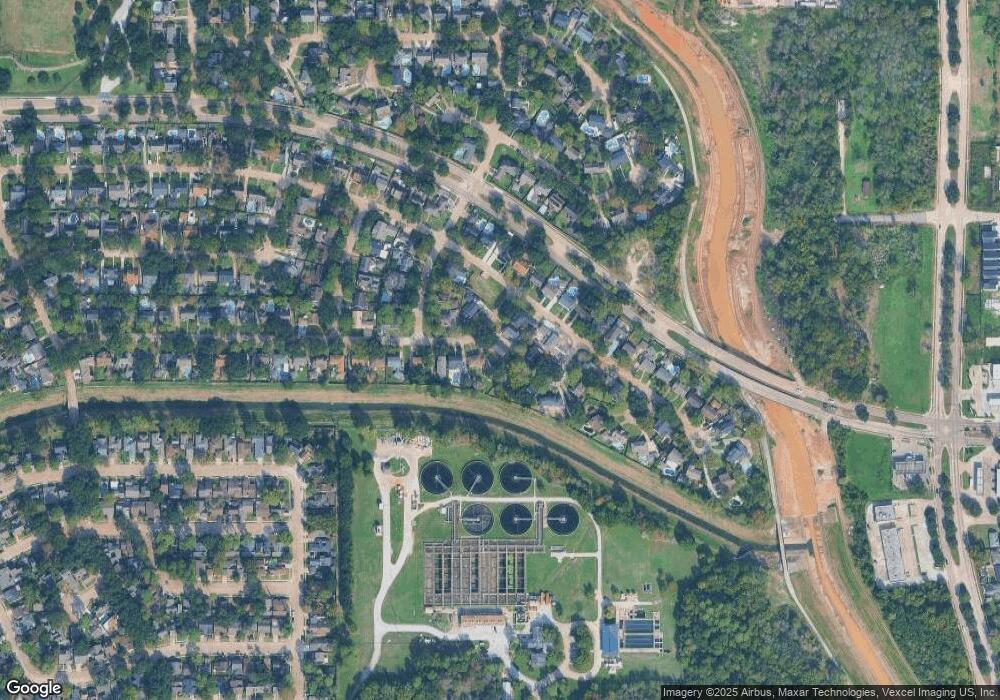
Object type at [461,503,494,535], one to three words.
storage tank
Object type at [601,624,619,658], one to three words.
shed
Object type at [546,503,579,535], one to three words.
storage tank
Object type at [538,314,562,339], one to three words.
house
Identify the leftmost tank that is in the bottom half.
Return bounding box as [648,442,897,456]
[421,461,453,493]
